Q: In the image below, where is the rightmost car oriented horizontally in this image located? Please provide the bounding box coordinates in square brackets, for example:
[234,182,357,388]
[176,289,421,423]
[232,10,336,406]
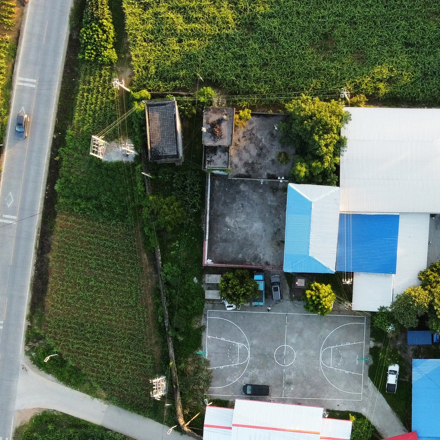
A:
[242,383,271,396]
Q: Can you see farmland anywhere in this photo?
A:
Yes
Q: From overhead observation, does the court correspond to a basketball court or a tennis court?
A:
basketball court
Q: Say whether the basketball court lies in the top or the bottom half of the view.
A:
bottom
